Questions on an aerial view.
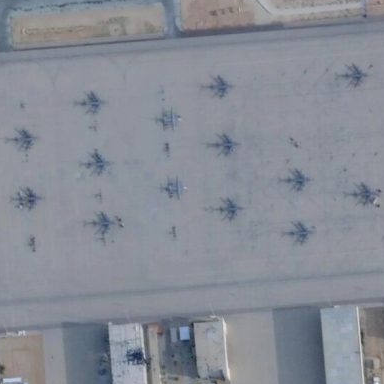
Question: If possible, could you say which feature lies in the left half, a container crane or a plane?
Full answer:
You can see a plane in the left half.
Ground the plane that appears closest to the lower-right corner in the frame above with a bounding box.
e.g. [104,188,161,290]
[291,222,315,245]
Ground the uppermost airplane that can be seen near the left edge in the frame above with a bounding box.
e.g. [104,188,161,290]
[16,129,40,150]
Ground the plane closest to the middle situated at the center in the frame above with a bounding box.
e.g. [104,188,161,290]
[166,177,183,199]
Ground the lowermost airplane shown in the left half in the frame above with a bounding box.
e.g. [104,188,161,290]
[93,213,117,235]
